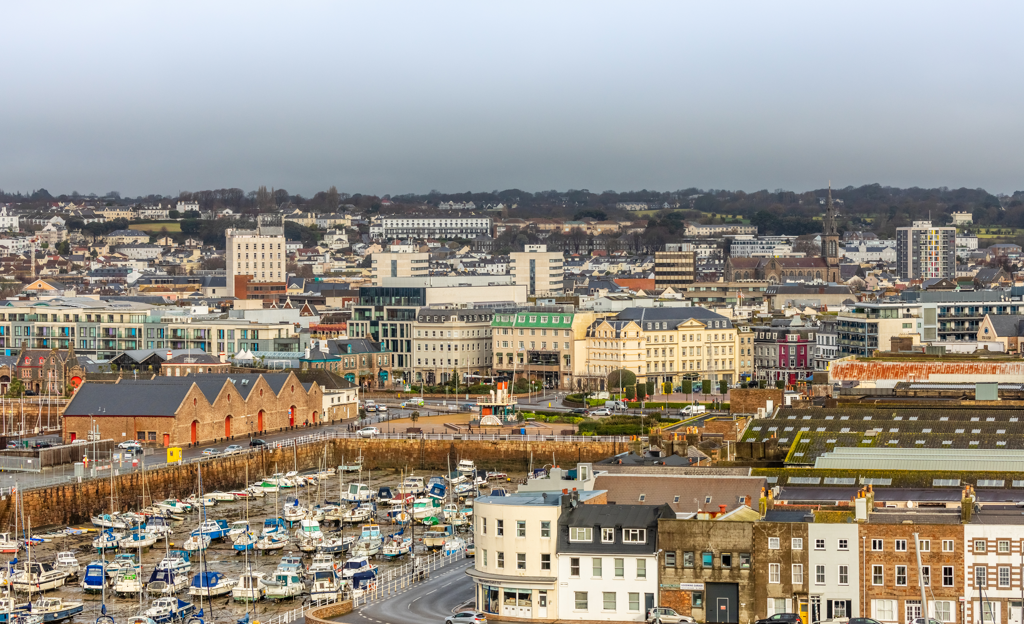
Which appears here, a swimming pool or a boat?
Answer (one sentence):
Looking from above, you can make out a boat.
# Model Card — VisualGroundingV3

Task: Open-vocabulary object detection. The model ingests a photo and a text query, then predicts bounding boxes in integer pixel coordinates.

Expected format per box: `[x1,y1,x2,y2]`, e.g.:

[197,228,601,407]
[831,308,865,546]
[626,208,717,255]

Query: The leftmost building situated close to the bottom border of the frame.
[462,486,563,616]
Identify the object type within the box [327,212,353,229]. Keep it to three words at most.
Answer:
house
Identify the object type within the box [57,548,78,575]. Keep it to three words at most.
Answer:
boat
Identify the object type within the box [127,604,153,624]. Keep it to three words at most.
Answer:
boat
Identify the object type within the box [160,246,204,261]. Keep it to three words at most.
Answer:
house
